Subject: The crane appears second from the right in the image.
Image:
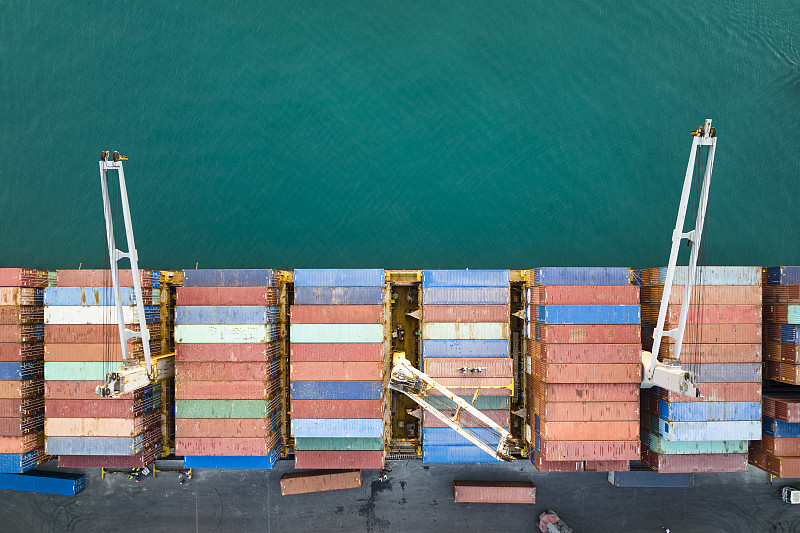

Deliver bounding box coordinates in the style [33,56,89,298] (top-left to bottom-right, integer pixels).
[385,348,519,463]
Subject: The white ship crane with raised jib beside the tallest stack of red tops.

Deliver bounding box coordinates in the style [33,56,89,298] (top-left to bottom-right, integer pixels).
[641,116,720,406]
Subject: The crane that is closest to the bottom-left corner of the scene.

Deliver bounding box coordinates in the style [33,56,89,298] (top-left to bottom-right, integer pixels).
[92,147,176,404]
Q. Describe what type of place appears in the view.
port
